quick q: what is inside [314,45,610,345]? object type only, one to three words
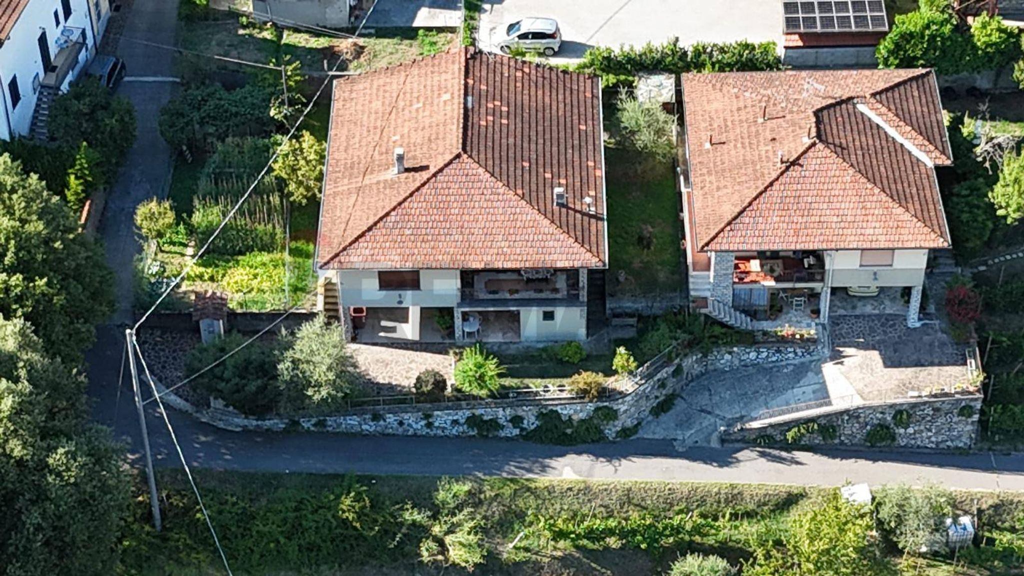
house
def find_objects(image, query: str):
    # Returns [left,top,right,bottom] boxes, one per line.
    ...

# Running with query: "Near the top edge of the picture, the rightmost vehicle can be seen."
[494,21,562,60]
